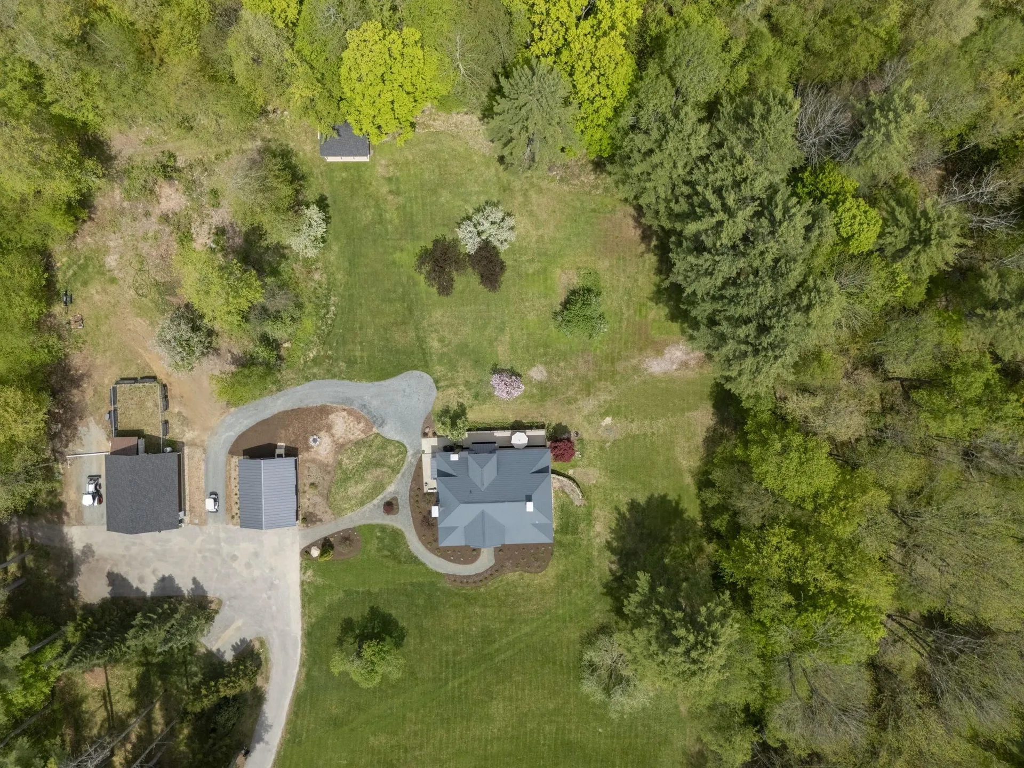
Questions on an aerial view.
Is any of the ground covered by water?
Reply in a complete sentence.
No, there's no water in this view.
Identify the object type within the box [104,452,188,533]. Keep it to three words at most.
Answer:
barn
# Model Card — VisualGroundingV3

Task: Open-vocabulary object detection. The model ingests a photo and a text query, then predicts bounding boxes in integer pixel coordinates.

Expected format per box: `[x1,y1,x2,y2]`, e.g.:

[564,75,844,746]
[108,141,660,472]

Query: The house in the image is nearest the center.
[431,441,554,549]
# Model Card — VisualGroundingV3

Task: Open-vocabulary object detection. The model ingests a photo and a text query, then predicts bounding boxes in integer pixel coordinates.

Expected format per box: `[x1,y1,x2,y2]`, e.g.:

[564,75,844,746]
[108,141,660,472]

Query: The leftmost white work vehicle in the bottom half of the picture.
[81,473,103,505]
